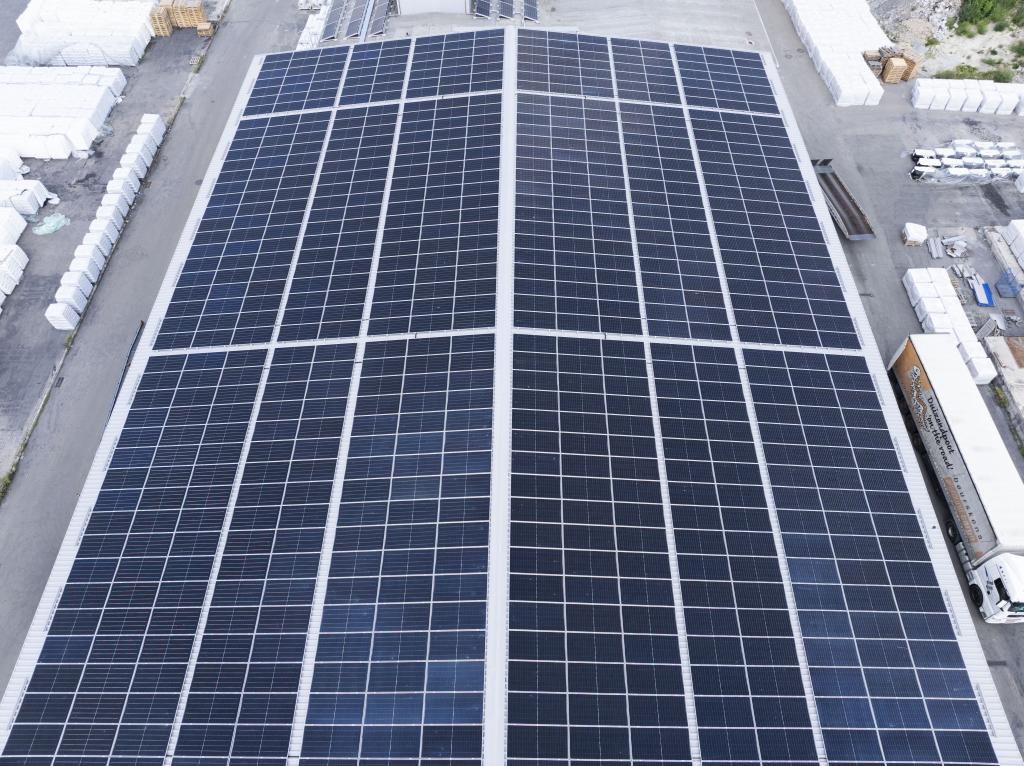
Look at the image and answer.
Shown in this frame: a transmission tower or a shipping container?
shipping container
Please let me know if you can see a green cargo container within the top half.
No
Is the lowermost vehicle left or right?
right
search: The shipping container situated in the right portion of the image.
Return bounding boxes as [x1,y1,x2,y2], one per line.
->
[811,163,873,245]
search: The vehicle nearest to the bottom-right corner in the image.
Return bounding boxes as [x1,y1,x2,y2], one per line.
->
[885,333,1024,623]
